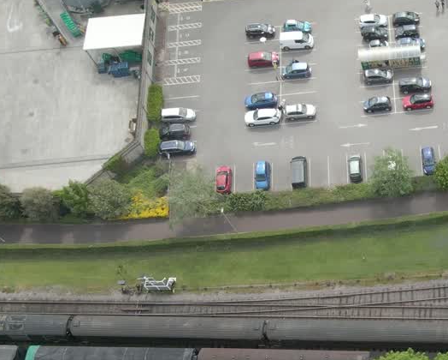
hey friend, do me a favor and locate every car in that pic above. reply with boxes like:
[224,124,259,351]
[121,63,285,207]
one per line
[390,11,422,28]
[397,36,427,51]
[281,104,319,122]
[163,107,197,125]
[283,20,311,33]
[160,139,198,159]
[393,24,422,40]
[246,92,278,110]
[420,147,436,176]
[253,162,272,191]
[398,76,433,95]
[281,63,312,80]
[358,25,391,43]
[215,168,234,196]
[243,22,278,42]
[345,154,364,185]
[404,94,433,111]
[246,51,281,69]
[246,107,281,128]
[159,122,192,140]
[356,13,390,29]
[362,96,393,114]
[362,69,393,87]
